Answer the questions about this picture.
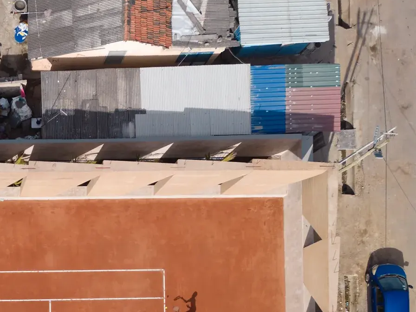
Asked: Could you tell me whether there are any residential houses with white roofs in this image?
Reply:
Yes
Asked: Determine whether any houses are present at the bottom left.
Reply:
No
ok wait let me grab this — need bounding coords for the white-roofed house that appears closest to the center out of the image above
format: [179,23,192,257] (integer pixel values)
[141,67,252,137]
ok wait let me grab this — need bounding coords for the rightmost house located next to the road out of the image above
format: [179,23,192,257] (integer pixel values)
[279,65,341,145]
